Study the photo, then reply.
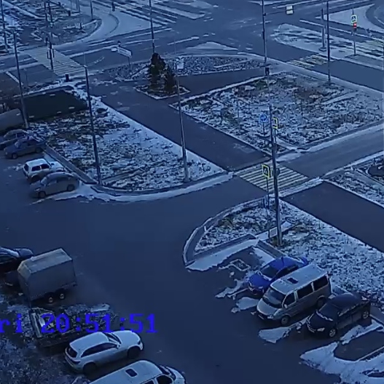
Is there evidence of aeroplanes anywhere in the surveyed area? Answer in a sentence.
No, no aeroplane is visible in the scene.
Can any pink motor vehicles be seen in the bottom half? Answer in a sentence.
No, no pink motor vehicle is visible in the bottom half.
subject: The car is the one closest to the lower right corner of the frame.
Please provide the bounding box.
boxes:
[301,289,376,339]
